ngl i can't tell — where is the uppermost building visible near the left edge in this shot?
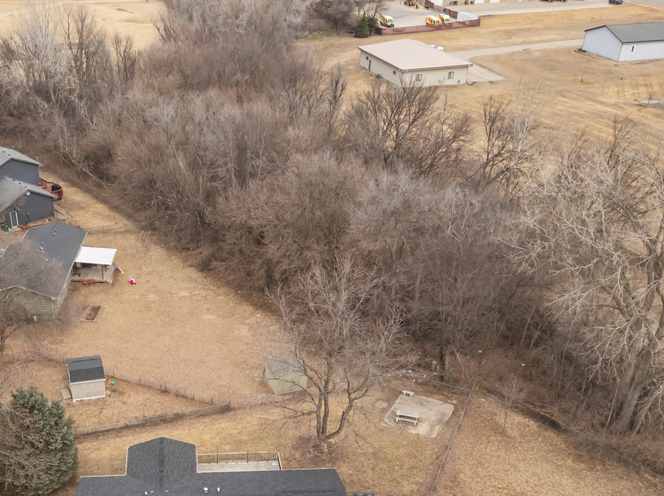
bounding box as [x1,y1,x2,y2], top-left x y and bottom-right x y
[0,147,70,230]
